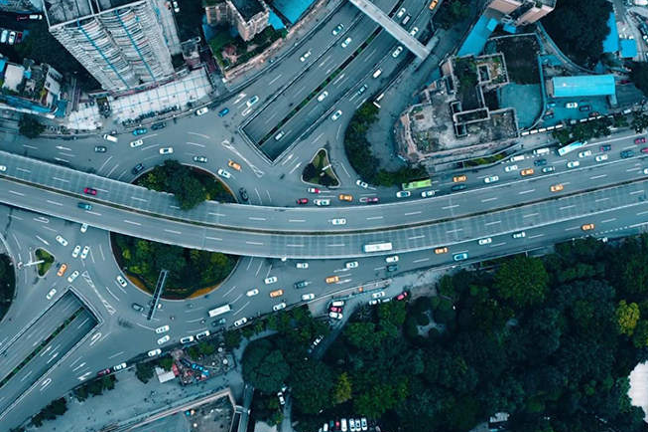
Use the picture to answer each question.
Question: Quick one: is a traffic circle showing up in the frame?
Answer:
Yes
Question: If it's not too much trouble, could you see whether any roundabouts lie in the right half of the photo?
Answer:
No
